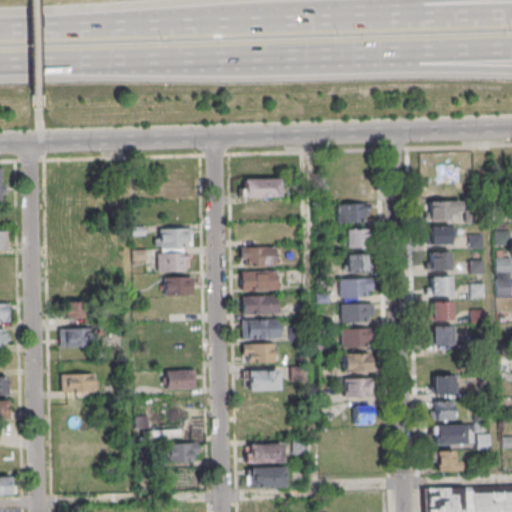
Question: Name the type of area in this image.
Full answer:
What you see here is a residential area.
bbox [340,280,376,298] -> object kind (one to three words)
house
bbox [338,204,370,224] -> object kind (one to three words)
house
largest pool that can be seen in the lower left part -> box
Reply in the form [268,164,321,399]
[67,416,82,430]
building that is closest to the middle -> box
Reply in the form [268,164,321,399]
[242,247,280,268]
